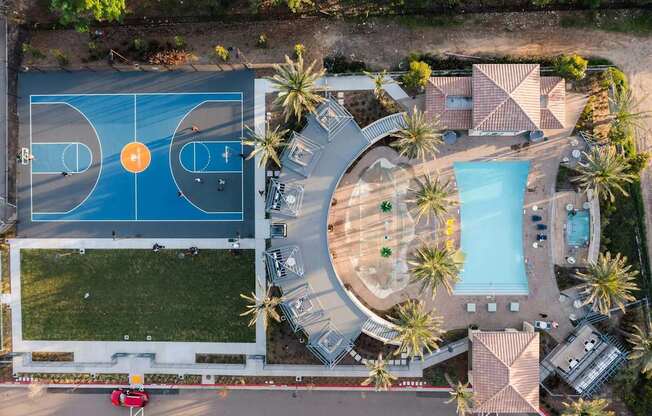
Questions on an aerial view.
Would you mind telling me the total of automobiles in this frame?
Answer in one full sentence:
My tally gives 1 automobile in this photo.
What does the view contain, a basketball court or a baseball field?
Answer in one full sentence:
Looking from above, you can make out a basketball court.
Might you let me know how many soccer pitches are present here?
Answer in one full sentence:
The photo contains no soccer pitches.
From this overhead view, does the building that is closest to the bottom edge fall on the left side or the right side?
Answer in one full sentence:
It is on the right.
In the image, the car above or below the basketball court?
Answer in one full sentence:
It's below the basketball court that the car shows up.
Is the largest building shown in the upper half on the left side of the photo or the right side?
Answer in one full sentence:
You can find the largest building shown in the upper half on the right side of the picture.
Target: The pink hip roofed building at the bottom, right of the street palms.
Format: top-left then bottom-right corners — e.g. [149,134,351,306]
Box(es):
[467,327,542,415]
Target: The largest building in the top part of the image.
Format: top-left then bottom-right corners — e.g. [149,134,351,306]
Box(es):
[424,63,567,138]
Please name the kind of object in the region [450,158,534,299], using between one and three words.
swimming pool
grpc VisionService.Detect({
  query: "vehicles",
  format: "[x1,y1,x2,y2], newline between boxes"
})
[113,389,150,408]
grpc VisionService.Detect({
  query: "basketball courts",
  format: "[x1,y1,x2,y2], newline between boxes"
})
[18,72,254,238]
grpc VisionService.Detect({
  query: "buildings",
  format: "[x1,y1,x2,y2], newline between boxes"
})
[467,327,542,415]
[424,63,567,138]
